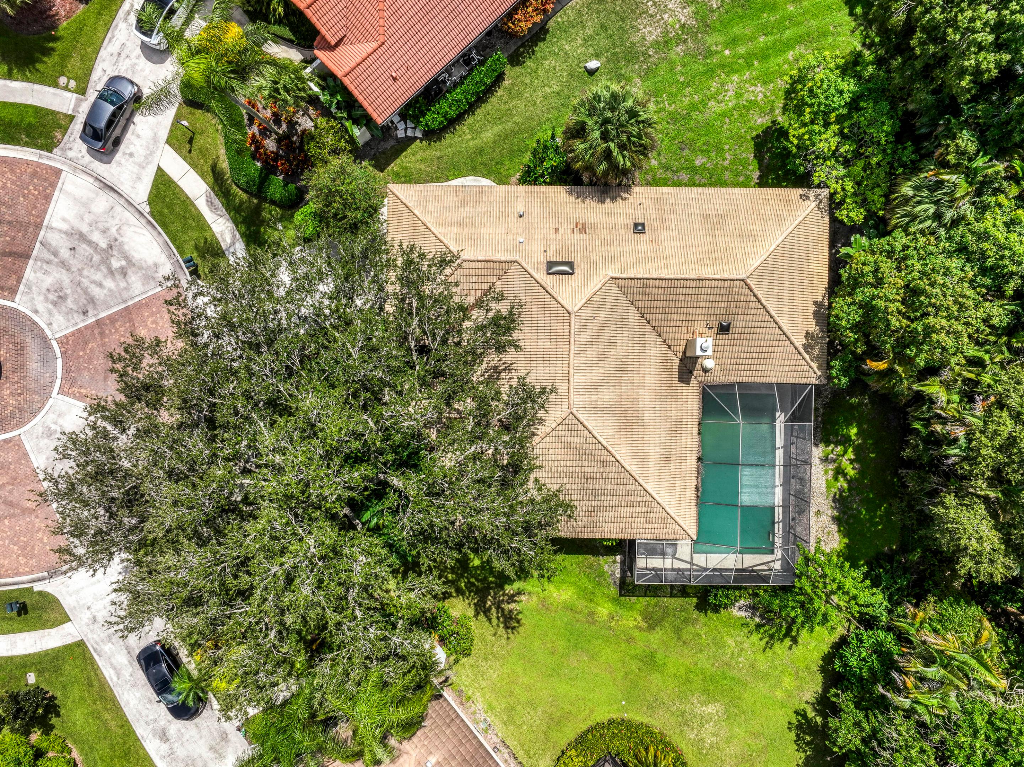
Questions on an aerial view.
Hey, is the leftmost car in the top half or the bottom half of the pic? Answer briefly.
top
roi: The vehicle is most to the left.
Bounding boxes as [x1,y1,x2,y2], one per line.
[79,78,139,153]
